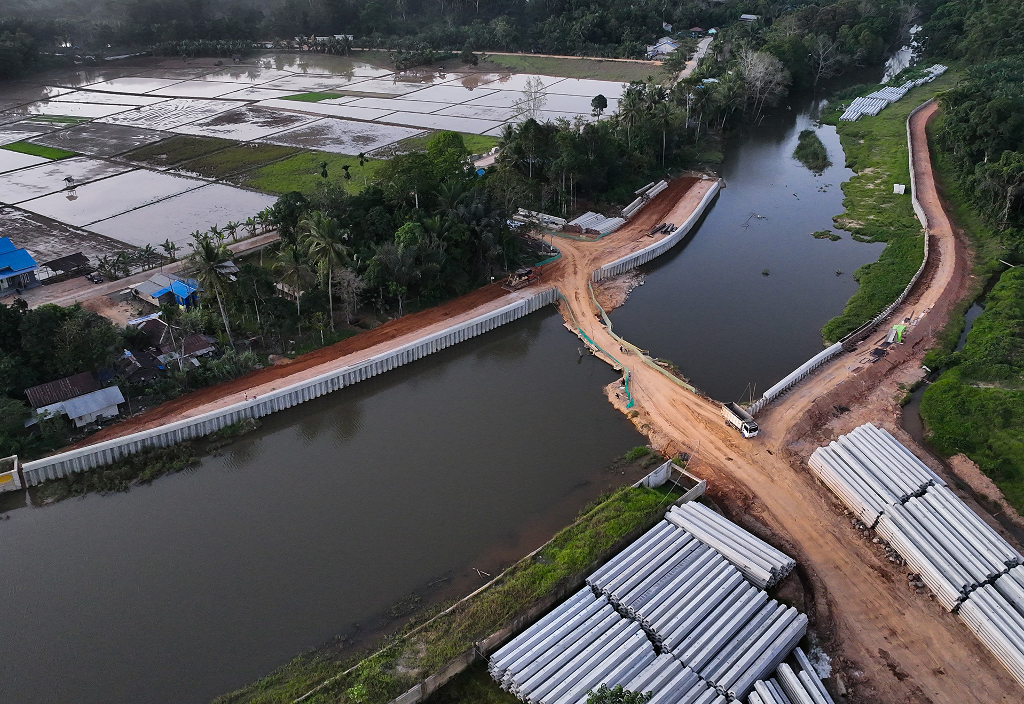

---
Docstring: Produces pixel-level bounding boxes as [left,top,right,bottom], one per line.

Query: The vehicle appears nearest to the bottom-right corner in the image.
[722,397,768,438]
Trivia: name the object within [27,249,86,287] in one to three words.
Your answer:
building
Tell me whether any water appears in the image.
Yes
